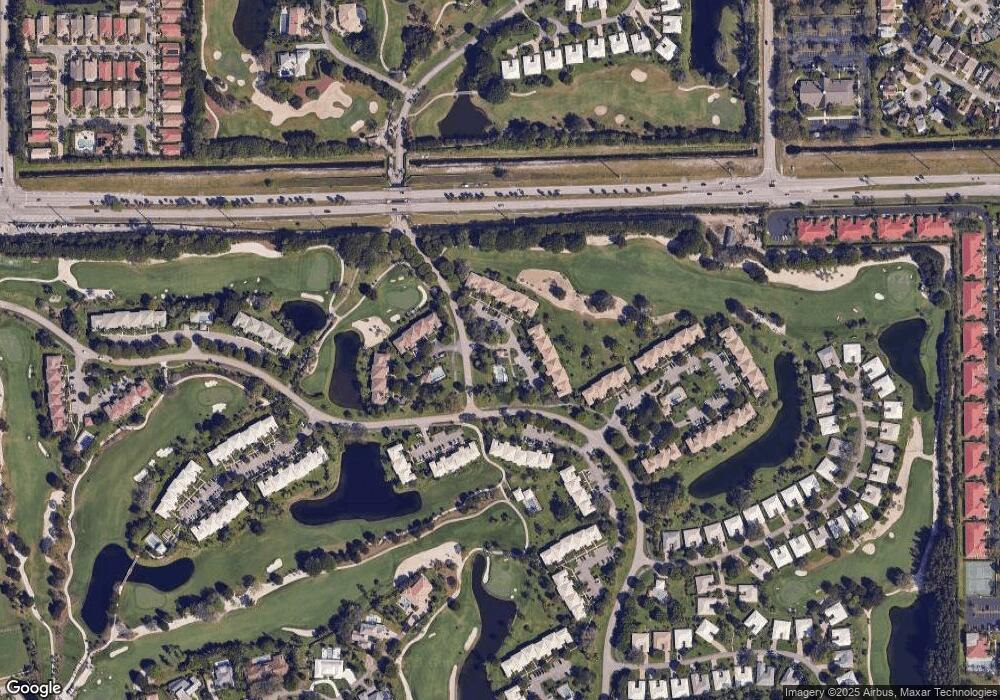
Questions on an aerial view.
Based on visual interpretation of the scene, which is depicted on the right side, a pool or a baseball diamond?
pool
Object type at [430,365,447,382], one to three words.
swimming pool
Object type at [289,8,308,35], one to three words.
house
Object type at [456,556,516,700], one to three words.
pond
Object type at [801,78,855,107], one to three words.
building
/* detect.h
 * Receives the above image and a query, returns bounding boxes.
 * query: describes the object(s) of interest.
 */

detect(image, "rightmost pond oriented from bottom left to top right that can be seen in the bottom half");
[689,352,800,497]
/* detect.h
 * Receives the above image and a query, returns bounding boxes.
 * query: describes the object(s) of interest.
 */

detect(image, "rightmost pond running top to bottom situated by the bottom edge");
[888,594,936,700]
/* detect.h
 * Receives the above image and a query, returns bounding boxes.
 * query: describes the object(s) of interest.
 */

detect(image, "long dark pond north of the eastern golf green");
[688,0,739,75]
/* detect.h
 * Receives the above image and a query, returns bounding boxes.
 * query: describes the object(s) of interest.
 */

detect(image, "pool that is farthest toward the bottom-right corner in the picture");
[966,658,992,672]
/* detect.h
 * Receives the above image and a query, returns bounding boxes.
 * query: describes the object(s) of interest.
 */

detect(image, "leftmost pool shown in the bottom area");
[76,431,96,451]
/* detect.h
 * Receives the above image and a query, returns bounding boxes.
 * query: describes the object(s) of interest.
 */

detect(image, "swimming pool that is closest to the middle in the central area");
[493,365,509,383]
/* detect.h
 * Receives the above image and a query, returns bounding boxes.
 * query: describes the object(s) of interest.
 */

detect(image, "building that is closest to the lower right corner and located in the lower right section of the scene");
[971,638,994,657]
